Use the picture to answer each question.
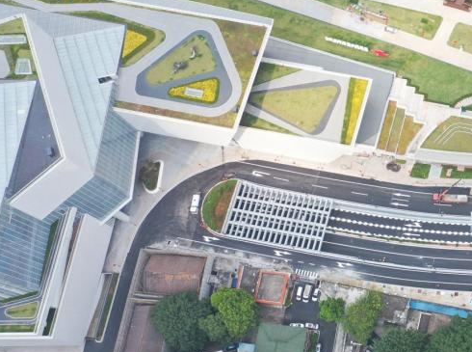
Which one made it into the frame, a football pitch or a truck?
truck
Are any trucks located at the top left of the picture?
No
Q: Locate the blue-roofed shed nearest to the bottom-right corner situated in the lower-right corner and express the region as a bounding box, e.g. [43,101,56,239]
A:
[410,300,472,320]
